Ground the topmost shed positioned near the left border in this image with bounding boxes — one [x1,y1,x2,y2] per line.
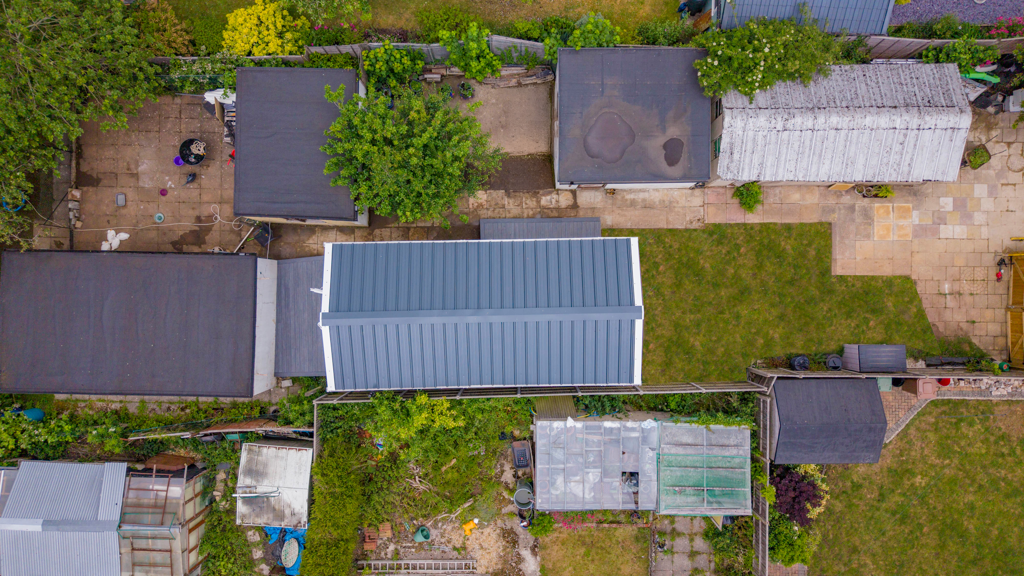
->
[0,251,278,398]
